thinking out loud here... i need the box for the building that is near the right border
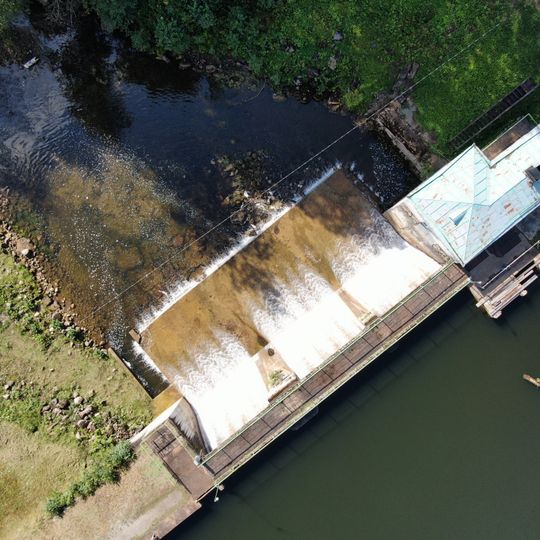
[382,121,540,285]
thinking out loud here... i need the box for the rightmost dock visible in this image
[459,237,540,321]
